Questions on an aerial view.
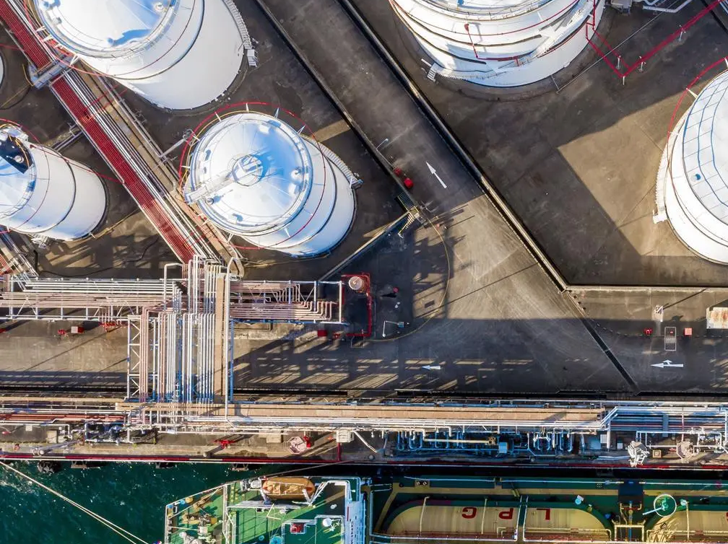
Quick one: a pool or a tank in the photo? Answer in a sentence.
This aerial view contains a tank.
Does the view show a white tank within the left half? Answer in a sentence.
Yes, within the left half there is a white tank.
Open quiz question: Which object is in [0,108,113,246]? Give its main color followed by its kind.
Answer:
white storage tank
